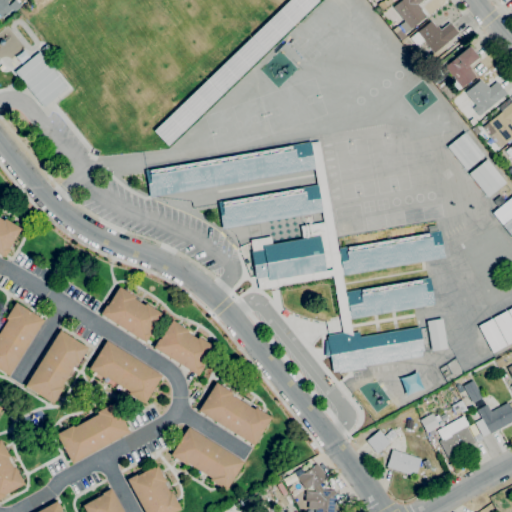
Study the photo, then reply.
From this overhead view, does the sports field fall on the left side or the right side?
left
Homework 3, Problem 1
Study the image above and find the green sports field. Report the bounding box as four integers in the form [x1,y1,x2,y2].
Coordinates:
[31,0,288,156]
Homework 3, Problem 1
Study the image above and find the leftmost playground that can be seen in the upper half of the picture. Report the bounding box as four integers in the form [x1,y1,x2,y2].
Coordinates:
[262,52,297,87]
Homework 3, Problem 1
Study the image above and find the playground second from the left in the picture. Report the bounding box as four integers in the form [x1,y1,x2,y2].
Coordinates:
[360,382,390,412]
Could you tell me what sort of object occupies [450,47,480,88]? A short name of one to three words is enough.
house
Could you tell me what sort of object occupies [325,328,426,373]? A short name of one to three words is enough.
building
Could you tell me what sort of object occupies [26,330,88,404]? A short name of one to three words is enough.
building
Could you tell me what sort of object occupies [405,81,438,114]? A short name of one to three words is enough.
playground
